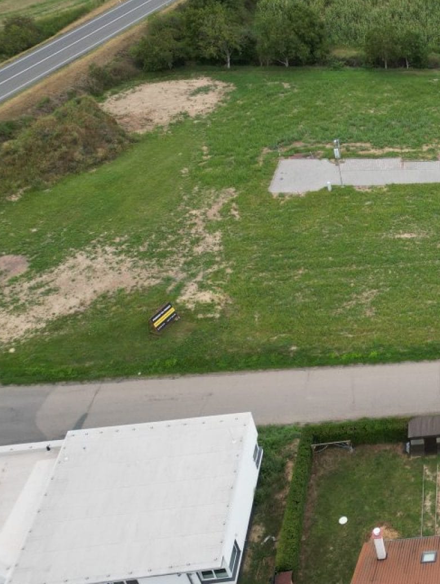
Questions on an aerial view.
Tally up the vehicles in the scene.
none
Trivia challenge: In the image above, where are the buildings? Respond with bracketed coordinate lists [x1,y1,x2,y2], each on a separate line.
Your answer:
[406,408,440,460]
[356,535,440,584]
[3,415,260,584]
